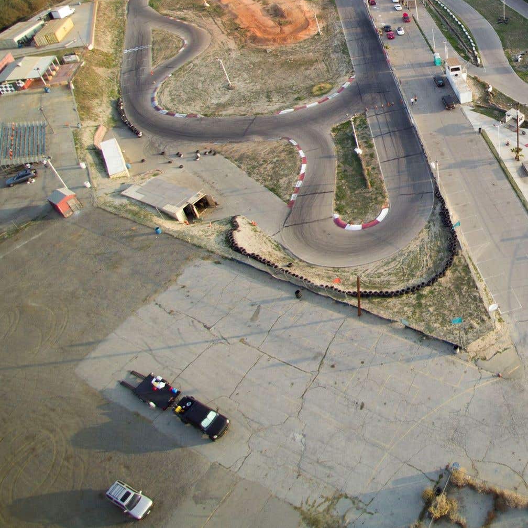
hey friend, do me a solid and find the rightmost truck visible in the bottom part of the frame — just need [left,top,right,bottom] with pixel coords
[171,394,230,441]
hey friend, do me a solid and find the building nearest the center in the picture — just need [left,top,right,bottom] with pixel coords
[120,177,223,225]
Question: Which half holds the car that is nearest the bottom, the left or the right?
left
